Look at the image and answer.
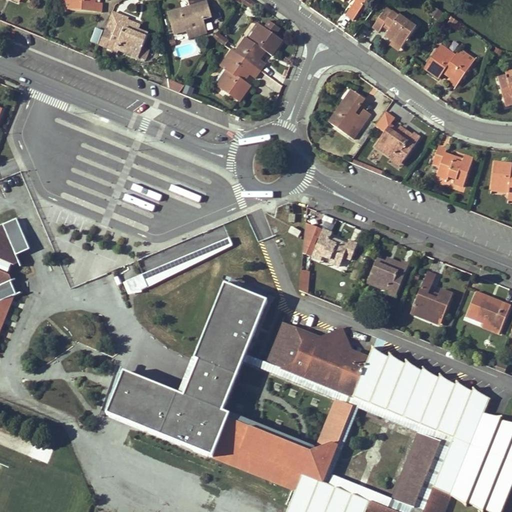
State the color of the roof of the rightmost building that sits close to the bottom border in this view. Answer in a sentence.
The roof of the rightmost building that sits close to the bottom border is white.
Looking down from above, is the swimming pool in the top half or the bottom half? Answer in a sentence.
You can find the swimming pool in the top half.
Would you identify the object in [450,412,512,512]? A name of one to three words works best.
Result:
building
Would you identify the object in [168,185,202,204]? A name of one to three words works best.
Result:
vehicle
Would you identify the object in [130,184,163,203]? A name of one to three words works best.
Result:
vehicle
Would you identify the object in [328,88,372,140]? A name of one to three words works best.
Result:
house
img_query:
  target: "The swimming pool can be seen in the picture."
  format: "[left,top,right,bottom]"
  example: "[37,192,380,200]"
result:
[173,40,201,60]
